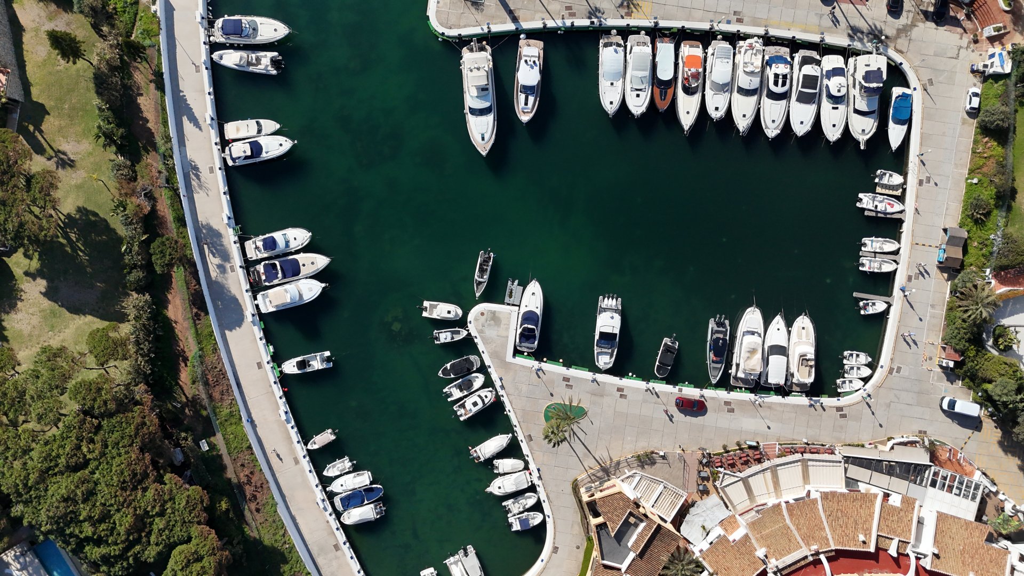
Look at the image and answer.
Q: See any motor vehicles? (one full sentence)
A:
Yes, there's a motor vehicle here.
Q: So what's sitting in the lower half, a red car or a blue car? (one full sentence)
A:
You can see a red car in the lower half.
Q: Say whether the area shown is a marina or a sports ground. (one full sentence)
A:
What you see here is a marina.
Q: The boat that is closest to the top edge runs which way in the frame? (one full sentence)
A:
The boat that is closest to the top edge is laid out from left to right.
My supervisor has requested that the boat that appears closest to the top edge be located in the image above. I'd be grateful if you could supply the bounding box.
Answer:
[207,16,293,47]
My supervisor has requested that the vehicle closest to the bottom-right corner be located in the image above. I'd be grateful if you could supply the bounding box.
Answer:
[939,397,988,419]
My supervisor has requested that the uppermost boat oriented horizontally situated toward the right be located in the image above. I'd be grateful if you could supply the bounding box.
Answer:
[872,169,904,185]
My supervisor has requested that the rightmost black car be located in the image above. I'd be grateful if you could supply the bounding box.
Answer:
[931,0,952,25]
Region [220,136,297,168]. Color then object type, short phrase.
white boat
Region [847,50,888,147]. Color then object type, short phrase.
white boat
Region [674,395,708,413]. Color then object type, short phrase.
red car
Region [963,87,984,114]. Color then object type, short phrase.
white car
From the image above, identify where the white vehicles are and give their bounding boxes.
[963,87,984,114]
[939,397,988,419]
